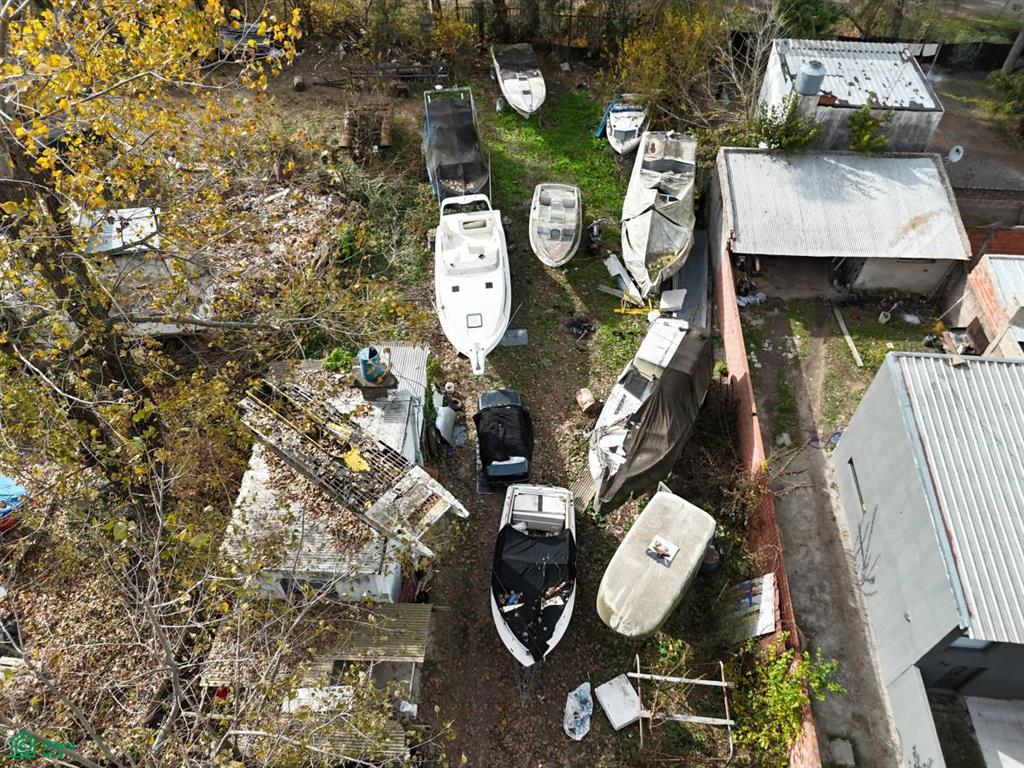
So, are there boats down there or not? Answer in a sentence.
Yes, a boat is visible in the scene.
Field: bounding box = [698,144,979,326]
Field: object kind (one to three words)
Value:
building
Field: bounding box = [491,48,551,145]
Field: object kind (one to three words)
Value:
boat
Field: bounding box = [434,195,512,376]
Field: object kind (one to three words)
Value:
boat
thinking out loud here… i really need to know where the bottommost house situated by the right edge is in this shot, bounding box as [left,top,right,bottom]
[833,342,1024,692]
